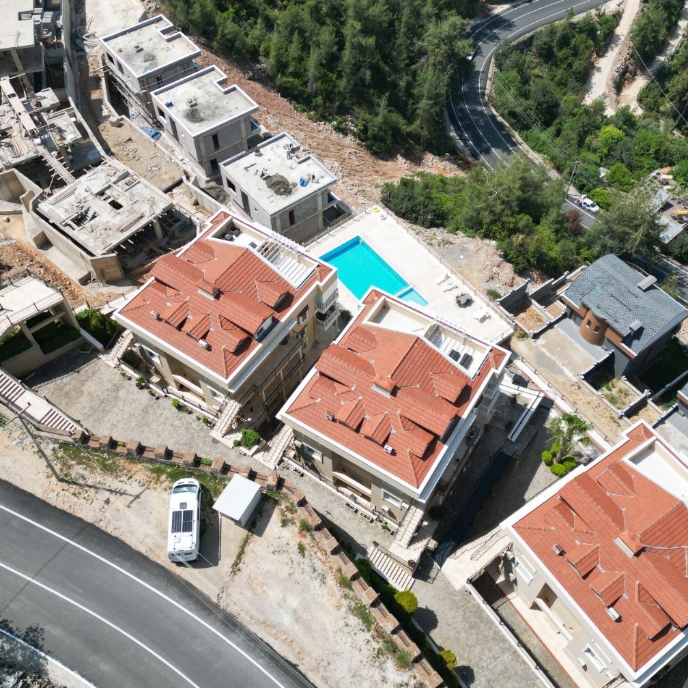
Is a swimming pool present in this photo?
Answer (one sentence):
Yes, the image includes a swimming pool.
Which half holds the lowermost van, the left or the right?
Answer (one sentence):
The lowermost van sits on the left side.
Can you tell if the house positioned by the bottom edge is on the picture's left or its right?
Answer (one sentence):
The house positioned by the bottom edge sits on the right side.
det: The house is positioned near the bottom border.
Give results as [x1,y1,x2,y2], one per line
[493,419,688,688]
